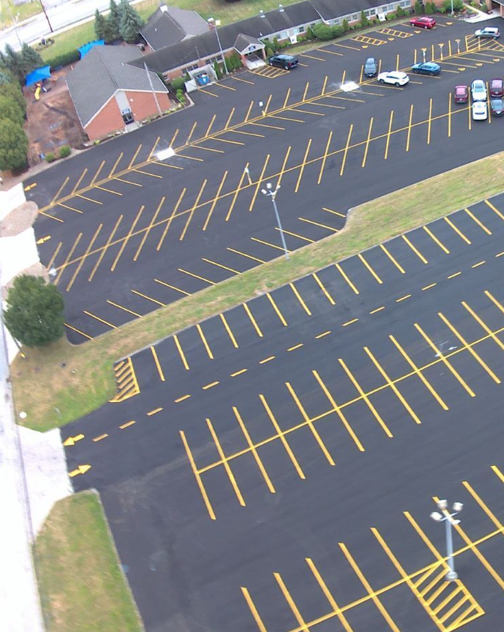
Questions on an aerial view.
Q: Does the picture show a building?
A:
Yes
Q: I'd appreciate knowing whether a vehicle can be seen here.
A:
Yes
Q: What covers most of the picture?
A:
paved ground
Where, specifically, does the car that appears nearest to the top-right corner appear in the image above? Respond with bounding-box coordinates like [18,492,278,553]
[474,27,503,41]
